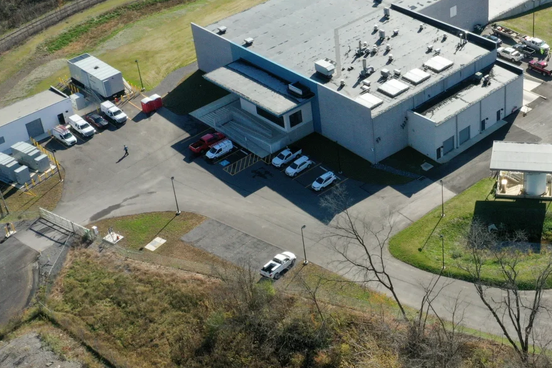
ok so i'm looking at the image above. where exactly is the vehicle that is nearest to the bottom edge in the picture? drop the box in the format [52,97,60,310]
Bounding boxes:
[257,248,302,279]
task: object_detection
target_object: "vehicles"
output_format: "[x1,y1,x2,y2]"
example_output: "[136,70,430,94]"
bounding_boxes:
[525,59,552,75]
[483,32,505,46]
[281,152,315,176]
[257,248,302,279]
[497,45,526,61]
[510,40,540,56]
[203,132,238,159]
[519,35,551,52]
[308,166,340,190]
[84,111,111,129]
[267,144,307,168]
[97,96,128,122]
[64,109,96,135]
[50,120,79,145]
